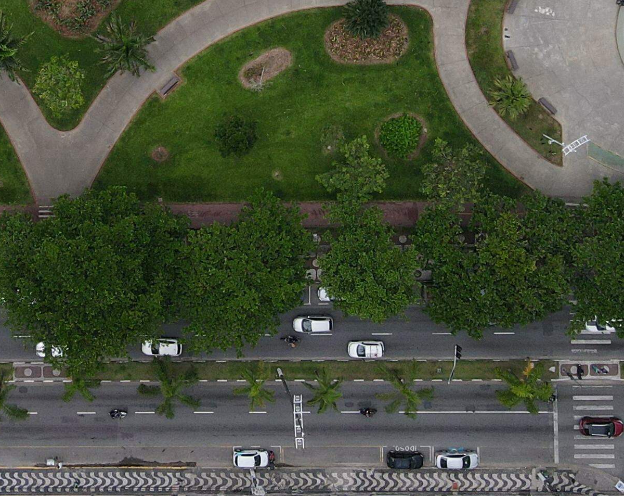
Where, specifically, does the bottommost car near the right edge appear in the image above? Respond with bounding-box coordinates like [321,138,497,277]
[582,416,624,439]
